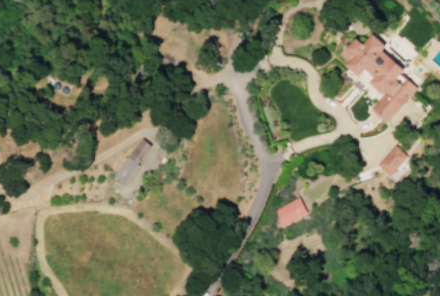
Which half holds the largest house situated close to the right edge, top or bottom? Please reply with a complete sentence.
Seen from above, the largest house situated close to the right edge lies in the top half of the view.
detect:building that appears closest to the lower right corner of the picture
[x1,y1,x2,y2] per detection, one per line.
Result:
[380,145,409,174]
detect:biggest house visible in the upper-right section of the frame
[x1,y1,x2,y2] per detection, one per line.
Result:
[341,32,420,121]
